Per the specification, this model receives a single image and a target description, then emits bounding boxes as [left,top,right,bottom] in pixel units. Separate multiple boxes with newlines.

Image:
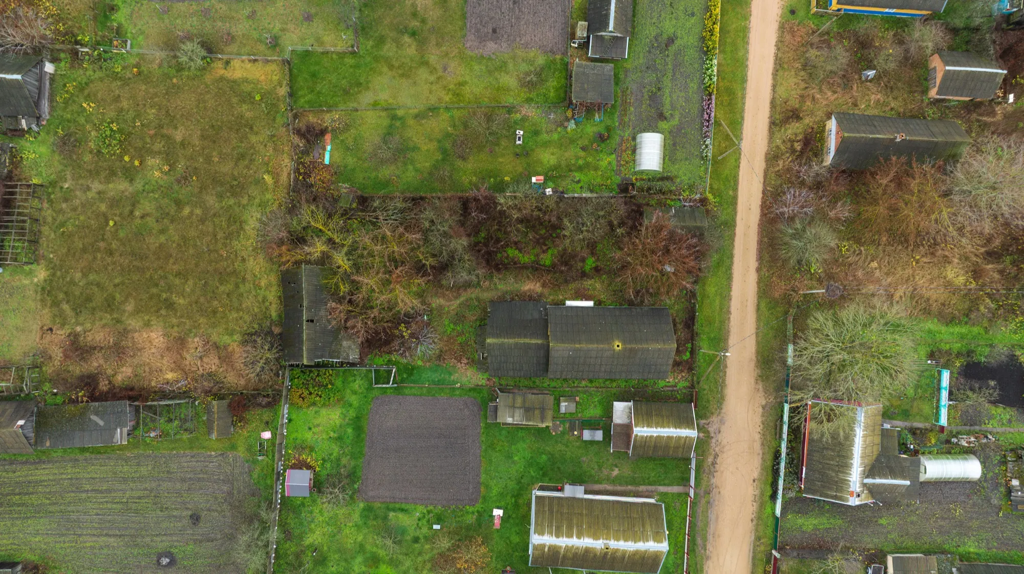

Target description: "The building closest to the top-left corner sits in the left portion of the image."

[0,56,56,129]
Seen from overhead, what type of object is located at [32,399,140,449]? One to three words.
barn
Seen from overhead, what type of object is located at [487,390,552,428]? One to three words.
shed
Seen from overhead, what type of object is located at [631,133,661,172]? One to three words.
greenhouse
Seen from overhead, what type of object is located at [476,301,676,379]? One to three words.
house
